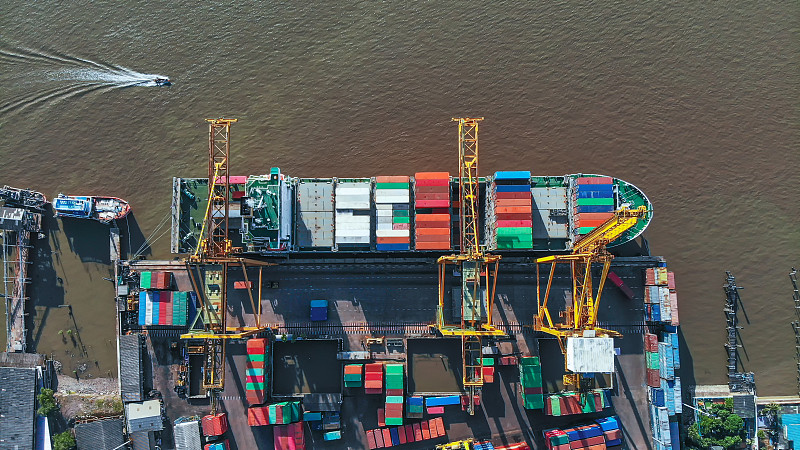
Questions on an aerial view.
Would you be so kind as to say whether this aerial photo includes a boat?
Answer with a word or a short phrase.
Yes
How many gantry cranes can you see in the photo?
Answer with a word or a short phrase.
3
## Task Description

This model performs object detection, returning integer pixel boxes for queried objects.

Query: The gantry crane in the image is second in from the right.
[428,114,508,417]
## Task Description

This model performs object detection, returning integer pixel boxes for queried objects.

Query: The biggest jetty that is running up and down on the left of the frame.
[1,232,30,352]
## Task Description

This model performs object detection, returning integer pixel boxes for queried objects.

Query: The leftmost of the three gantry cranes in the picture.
[181,114,279,417]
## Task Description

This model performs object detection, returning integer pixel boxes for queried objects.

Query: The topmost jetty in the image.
[109,228,123,259]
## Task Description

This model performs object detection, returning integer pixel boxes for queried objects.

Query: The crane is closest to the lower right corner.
[521,212,657,388]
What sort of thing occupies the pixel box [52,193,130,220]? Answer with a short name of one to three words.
boat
